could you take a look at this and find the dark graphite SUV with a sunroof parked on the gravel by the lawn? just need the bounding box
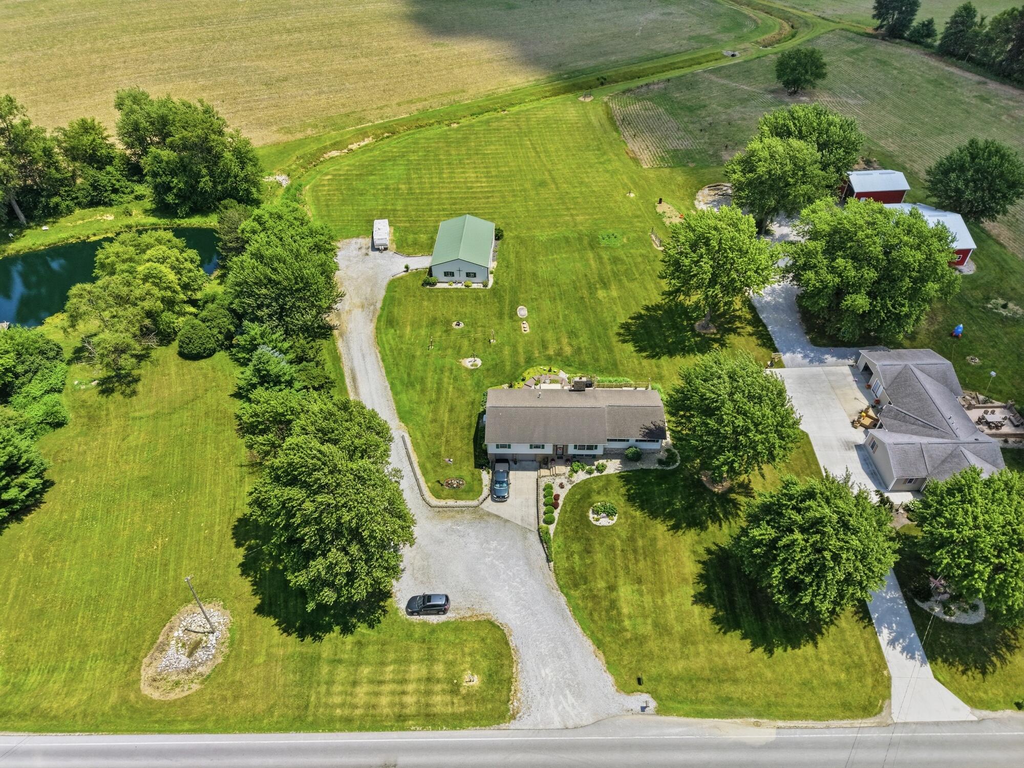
[405,597,451,622]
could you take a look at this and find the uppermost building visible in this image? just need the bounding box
[826,167,909,206]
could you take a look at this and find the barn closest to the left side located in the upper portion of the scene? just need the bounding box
[429,210,497,284]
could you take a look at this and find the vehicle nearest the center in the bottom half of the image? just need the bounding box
[490,458,511,499]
